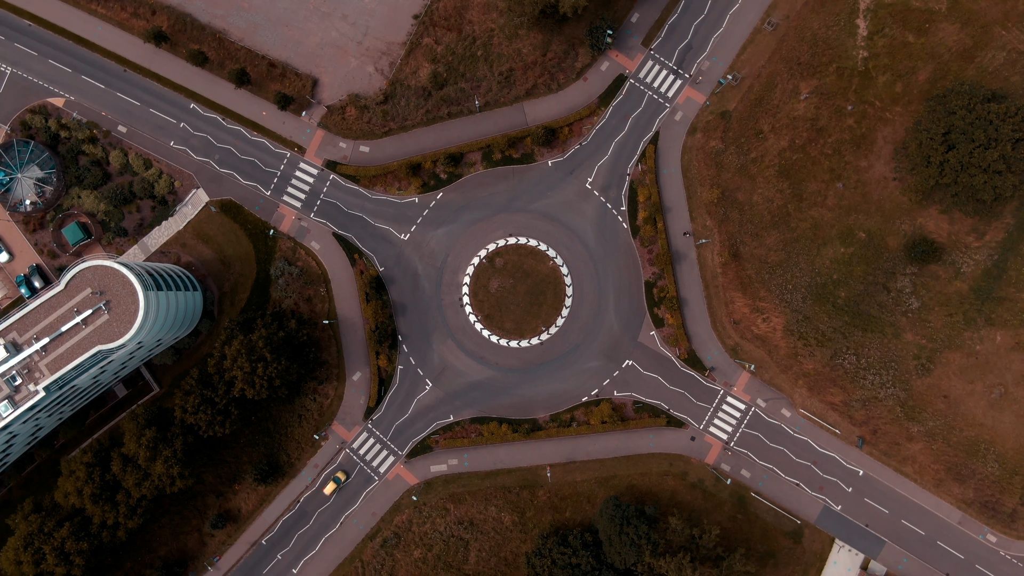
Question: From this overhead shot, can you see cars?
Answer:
Yes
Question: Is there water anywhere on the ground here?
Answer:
No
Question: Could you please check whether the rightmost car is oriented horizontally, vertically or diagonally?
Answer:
diagonally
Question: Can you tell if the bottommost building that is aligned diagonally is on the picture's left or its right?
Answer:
left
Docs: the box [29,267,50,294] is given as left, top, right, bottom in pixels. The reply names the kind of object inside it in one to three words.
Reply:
car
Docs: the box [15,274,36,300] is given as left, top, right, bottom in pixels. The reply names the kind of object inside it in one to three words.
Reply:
car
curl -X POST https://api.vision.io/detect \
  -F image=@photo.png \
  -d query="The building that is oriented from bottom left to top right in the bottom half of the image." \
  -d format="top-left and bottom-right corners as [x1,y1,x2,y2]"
[0,253,203,473]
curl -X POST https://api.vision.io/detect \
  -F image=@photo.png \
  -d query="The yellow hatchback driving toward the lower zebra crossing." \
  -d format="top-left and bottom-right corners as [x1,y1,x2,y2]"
[322,469,348,497]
